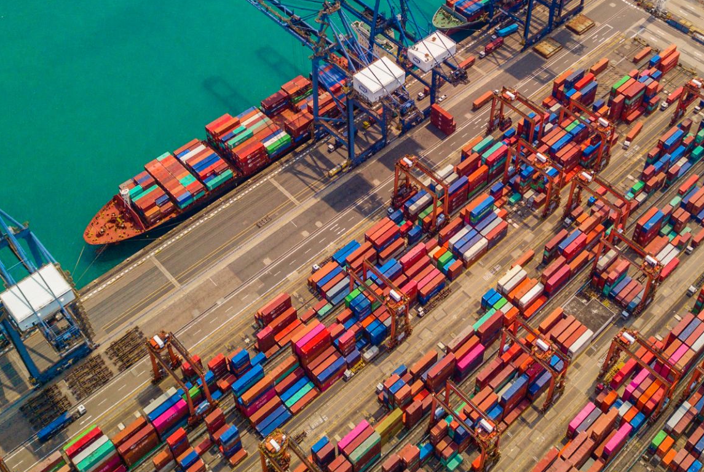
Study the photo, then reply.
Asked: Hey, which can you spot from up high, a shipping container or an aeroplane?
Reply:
shipping container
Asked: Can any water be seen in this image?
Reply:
Yes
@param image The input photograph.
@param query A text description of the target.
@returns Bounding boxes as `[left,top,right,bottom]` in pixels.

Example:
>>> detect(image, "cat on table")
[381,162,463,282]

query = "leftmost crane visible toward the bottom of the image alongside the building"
[497,313,577,409]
